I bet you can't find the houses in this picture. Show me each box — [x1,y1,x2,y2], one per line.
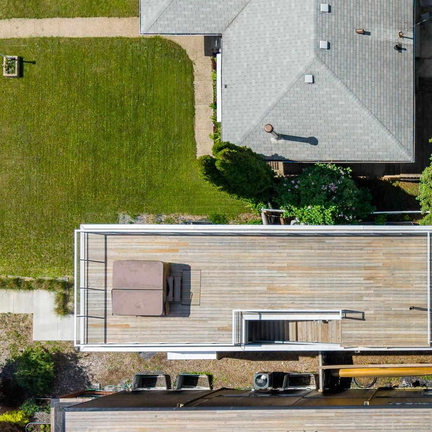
[137,0,418,165]
[80,224,432,359]
[63,390,432,432]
